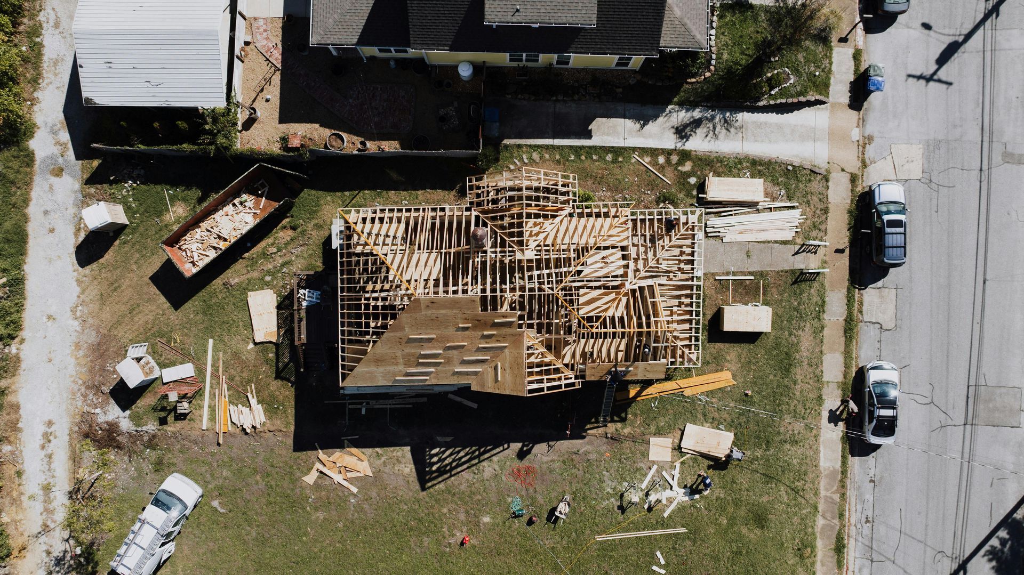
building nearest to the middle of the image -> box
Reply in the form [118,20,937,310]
[338,167,705,397]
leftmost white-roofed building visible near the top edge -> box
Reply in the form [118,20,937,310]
[72,0,232,114]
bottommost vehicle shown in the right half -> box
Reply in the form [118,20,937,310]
[856,360,903,443]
